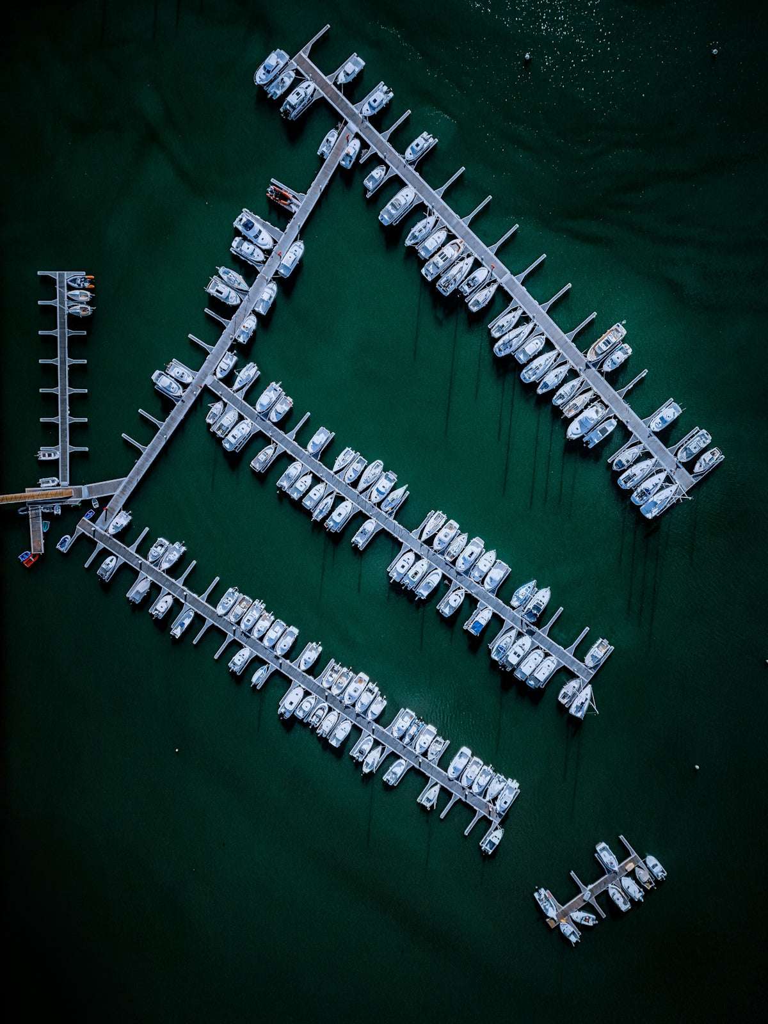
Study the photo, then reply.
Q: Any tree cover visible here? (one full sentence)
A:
No, there is no tree cover in the image.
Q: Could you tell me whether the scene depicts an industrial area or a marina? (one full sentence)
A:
The picture captures a marina.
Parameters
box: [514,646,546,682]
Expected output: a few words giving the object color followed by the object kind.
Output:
white boat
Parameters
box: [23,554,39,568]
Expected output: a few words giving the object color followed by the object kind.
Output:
red boat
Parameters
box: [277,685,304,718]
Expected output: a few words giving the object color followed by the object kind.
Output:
white boat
